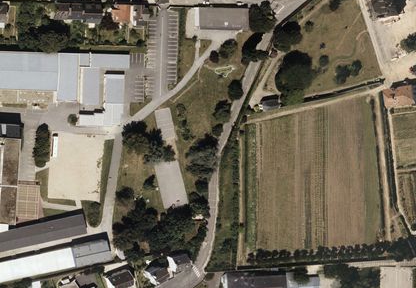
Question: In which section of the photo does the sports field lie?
left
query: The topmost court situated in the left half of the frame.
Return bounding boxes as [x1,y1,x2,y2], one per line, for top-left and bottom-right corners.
[155,108,175,142]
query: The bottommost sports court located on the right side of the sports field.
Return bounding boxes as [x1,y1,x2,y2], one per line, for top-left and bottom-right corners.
[154,163,188,209]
